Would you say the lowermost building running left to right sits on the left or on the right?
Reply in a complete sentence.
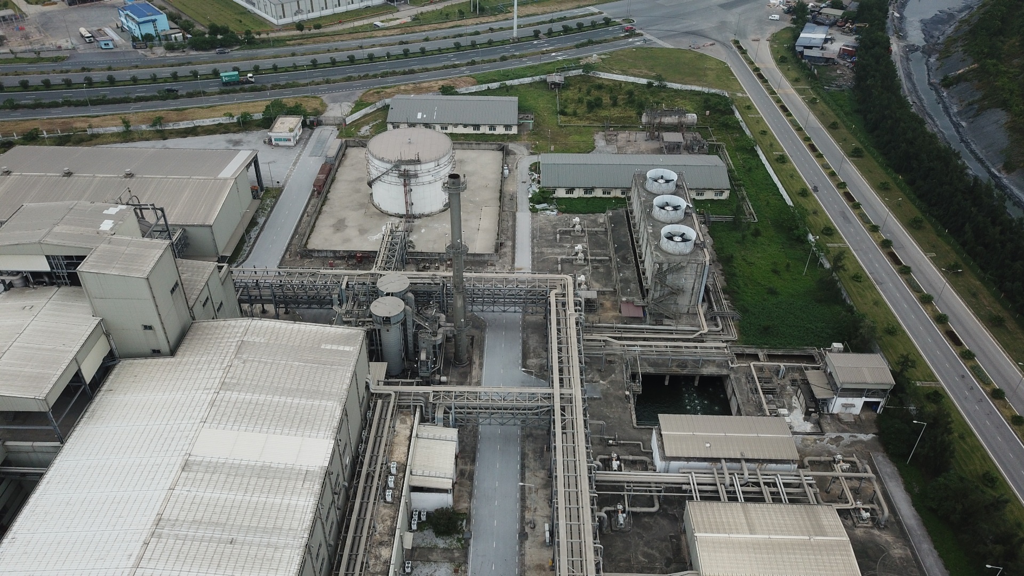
It is on the right.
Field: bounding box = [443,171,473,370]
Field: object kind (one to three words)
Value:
chimney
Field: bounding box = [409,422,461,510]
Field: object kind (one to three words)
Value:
building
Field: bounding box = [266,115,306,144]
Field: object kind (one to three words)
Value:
building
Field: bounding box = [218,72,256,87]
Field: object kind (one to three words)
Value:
vehicle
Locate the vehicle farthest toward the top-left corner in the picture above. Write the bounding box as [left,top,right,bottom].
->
[78,28,92,43]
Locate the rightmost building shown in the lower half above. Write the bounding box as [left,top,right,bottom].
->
[824,352,894,420]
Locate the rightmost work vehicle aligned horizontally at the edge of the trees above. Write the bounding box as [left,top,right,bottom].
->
[841,19,863,32]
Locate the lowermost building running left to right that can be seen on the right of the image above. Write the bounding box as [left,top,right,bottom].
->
[682,499,863,576]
